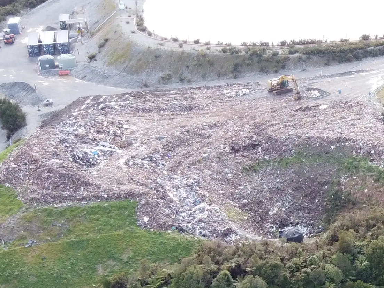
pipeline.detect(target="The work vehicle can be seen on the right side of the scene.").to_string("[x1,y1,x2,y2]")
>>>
[266,68,304,94]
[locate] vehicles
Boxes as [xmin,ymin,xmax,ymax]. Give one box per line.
[0,25,16,45]
[266,68,304,94]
